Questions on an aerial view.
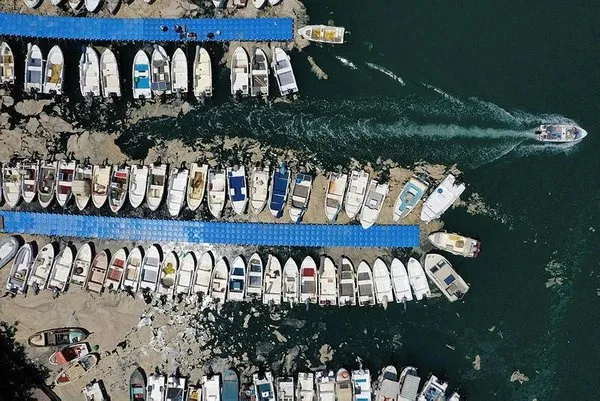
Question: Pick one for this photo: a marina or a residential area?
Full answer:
This image shows a marina.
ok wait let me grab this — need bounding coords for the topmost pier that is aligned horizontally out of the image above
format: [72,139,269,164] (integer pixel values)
[0,11,295,41]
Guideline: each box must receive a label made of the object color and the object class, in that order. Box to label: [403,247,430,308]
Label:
white boat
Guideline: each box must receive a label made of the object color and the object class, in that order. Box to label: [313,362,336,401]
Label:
white boat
